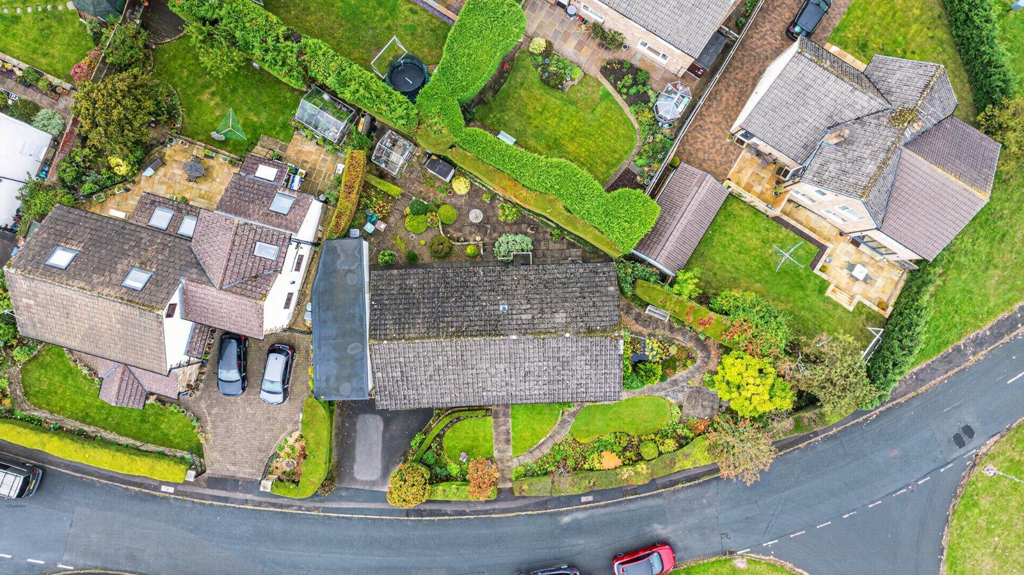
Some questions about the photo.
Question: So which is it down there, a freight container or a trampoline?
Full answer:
The one in the frame is a trampoline.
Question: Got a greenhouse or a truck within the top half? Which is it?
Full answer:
Looking within the top half, you will find a greenhouse.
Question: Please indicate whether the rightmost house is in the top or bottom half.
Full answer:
The top half of the photo is where the rightmost house is.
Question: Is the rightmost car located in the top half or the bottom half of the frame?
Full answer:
The top half of the photo is where the rightmost car is.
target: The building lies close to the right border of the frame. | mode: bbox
[730,35,1003,266]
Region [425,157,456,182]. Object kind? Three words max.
shed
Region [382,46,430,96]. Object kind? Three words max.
trampoline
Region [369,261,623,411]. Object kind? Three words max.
house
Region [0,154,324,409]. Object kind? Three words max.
house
